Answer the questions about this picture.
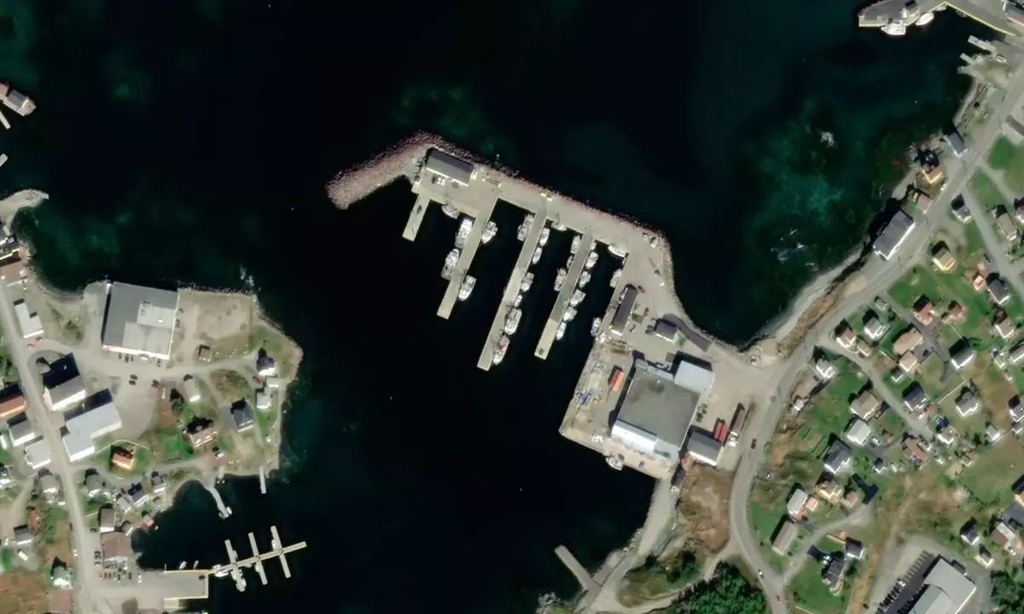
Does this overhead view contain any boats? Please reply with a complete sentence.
Yes, a boat is visible in the scene.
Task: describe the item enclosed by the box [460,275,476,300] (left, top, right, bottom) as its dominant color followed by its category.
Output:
white boat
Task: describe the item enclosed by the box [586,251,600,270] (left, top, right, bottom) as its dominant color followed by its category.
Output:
white boat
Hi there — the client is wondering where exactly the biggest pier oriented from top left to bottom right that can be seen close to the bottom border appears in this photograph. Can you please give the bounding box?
[555,545,594,591]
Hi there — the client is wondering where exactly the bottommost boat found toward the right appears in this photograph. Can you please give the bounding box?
[607,456,625,470]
